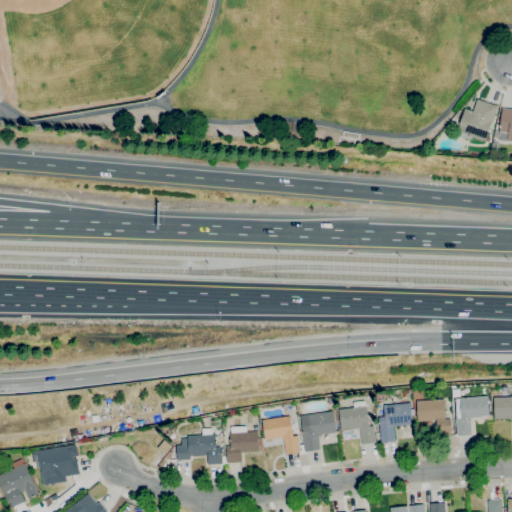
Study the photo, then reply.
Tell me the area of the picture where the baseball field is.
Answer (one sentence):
The baseball field is in the top left part of the image.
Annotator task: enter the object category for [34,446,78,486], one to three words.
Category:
house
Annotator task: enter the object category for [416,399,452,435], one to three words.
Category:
house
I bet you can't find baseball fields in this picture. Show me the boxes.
[0,0,208,112]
